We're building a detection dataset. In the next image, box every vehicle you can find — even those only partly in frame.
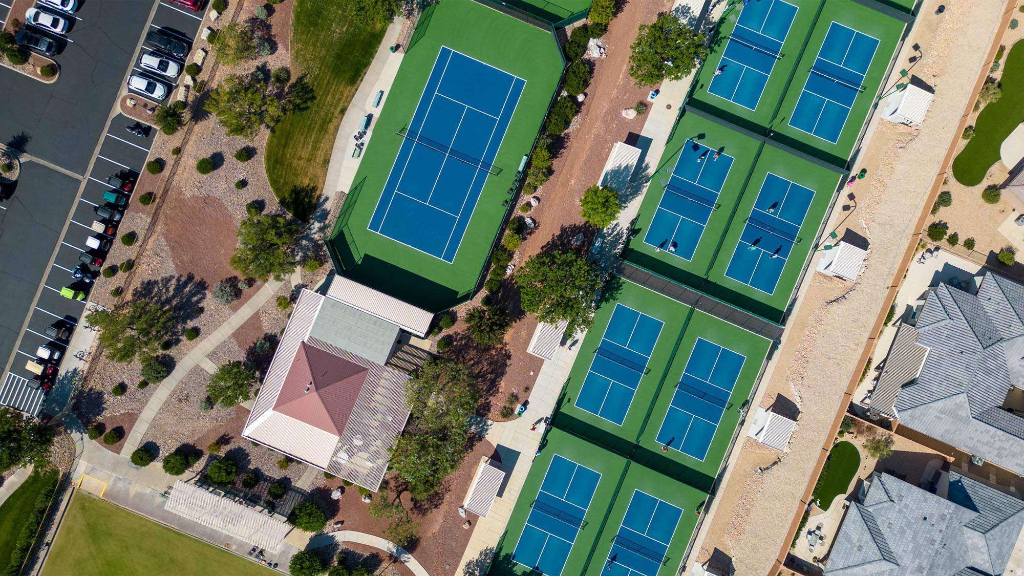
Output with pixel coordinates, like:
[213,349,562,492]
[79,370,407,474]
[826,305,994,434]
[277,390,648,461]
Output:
[101,189,130,206]
[95,204,124,221]
[42,323,71,338]
[165,0,208,17]
[59,285,88,301]
[23,358,56,375]
[26,374,55,390]
[139,52,181,80]
[35,344,64,359]
[18,30,61,58]
[144,29,192,60]
[90,219,118,236]
[106,175,135,192]
[127,126,147,138]
[27,8,70,36]
[126,74,170,102]
[84,235,113,251]
[77,251,106,267]
[40,0,82,17]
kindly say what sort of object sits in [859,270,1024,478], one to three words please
house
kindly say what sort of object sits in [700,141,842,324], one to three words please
sports court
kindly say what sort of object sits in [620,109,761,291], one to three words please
sports court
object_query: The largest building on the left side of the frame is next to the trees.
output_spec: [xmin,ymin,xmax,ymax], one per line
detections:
[241,289,421,493]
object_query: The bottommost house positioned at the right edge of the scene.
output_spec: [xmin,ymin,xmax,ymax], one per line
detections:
[817,468,1024,576]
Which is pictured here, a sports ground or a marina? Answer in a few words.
sports ground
